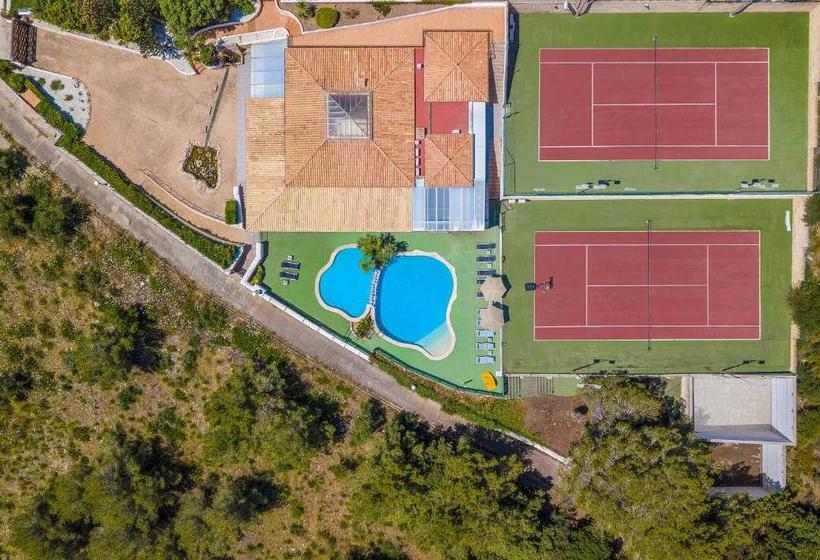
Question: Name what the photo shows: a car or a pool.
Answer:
pool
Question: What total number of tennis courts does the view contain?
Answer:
two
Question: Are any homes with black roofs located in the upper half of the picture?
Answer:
No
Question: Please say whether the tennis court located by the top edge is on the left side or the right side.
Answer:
right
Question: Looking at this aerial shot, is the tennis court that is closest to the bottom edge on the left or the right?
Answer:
right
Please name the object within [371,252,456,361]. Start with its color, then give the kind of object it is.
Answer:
blue swimming pool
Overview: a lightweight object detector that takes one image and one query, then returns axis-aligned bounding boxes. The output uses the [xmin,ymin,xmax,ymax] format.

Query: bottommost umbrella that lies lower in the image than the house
[479,304,504,332]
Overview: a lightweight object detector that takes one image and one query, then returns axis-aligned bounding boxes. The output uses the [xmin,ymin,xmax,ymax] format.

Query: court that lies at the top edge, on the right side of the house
[502,13,809,195]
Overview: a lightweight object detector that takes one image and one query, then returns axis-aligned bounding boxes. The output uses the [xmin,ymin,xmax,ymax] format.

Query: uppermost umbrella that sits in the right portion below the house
[479,276,507,302]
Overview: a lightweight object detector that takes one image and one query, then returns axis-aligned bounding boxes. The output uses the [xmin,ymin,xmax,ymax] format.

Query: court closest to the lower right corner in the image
[504,199,793,374]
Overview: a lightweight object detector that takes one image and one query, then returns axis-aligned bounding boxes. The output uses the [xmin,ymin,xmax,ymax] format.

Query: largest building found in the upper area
[245,29,491,232]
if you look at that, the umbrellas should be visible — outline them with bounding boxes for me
[479,276,507,302]
[479,304,504,332]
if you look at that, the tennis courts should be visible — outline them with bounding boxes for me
[502,13,809,195]
[504,199,793,374]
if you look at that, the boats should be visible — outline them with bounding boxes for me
[482,372,496,390]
